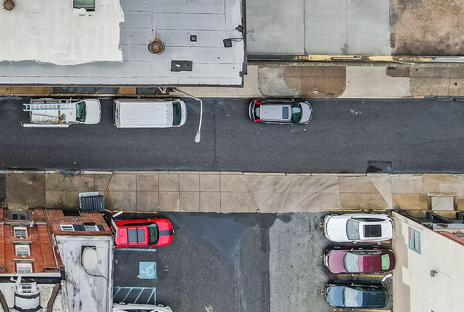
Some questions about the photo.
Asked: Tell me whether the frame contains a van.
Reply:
Yes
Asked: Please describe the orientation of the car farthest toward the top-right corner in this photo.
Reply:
from left to right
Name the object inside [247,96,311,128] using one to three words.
car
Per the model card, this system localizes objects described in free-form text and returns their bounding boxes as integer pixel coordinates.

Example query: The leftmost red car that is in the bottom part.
[111,218,173,253]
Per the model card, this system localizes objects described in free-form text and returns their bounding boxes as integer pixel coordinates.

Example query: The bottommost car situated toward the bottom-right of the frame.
[324,279,390,312]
